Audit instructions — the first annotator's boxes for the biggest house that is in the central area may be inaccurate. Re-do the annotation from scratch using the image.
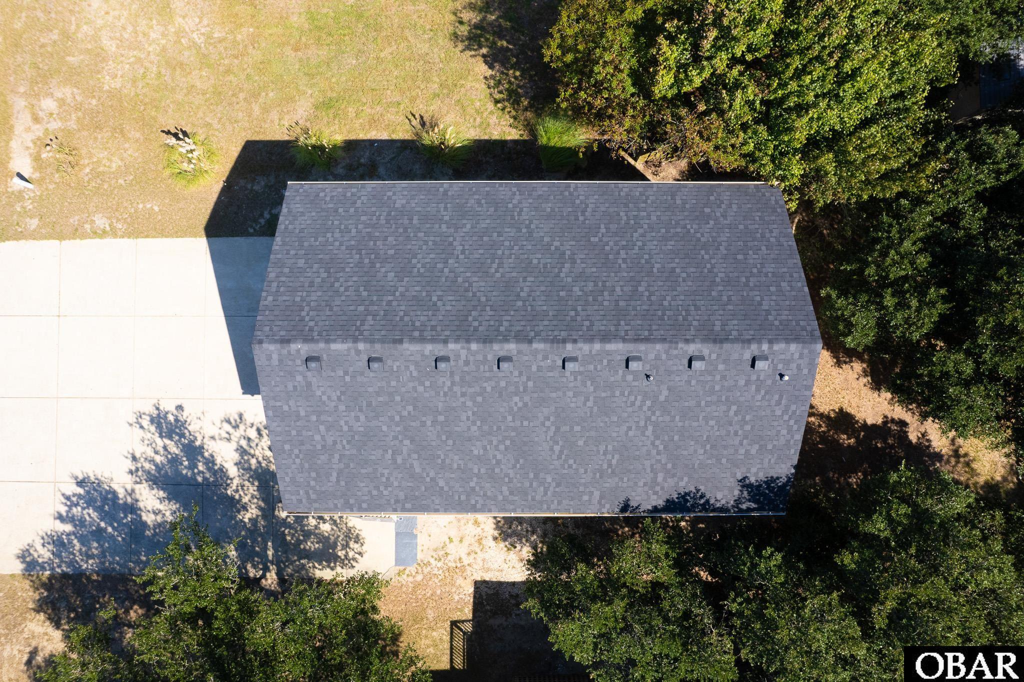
[253,180,822,516]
